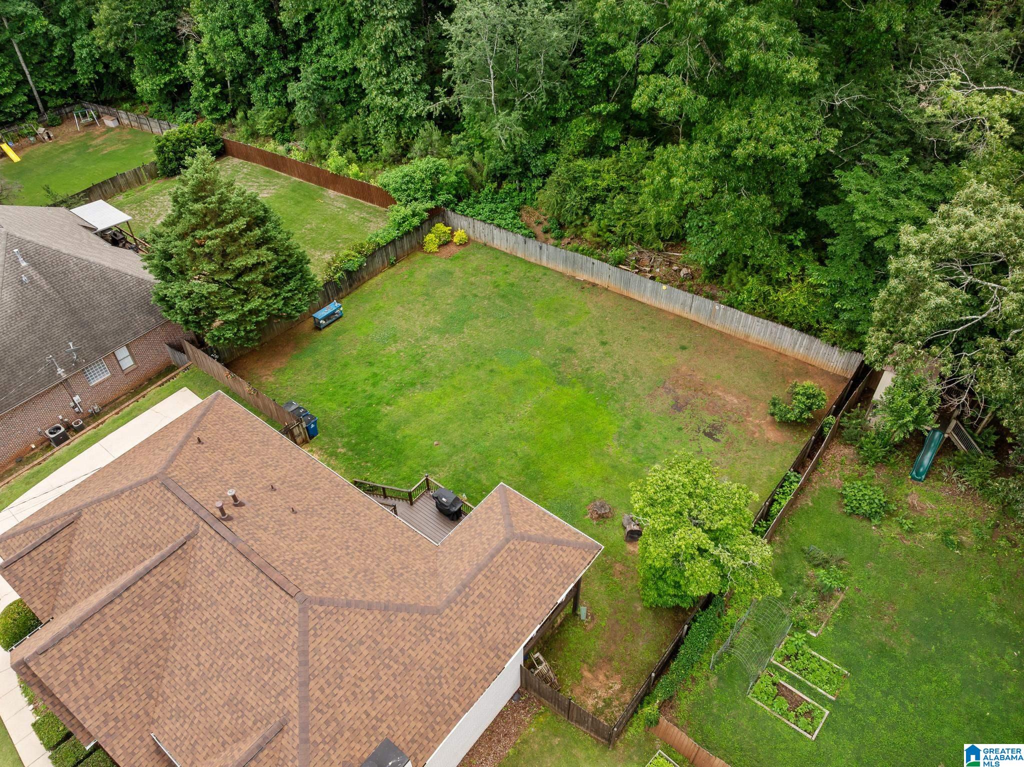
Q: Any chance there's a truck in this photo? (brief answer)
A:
No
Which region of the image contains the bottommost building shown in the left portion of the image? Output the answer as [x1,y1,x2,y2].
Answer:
[0,389,606,767]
